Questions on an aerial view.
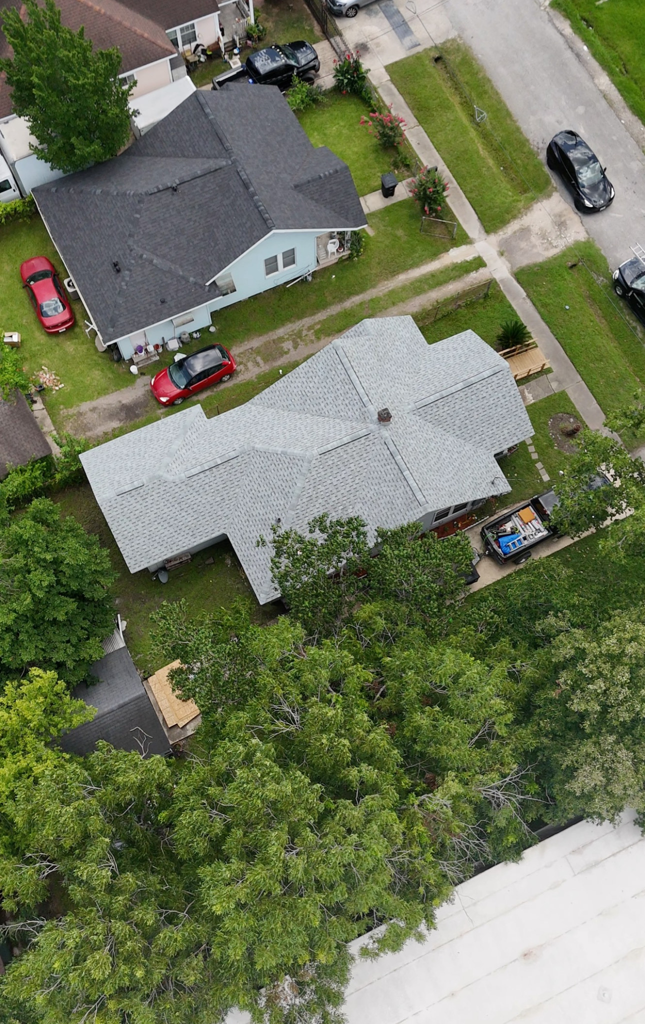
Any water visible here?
No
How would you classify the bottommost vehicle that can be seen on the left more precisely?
automobile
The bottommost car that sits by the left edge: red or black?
red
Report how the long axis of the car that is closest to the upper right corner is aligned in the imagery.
diagonally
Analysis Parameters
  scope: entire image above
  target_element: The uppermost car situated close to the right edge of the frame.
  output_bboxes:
[546,122,614,203]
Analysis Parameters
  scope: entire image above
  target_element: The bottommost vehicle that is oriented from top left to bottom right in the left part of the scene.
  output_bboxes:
[16,252,80,330]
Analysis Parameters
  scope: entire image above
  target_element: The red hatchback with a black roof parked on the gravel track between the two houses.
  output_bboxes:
[152,334,238,401]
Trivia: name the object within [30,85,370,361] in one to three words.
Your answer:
house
